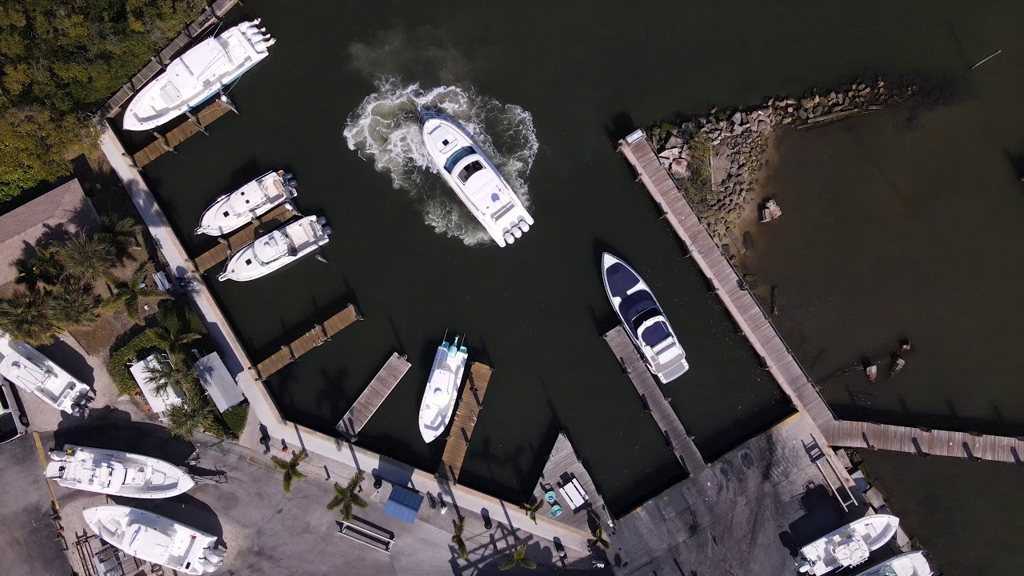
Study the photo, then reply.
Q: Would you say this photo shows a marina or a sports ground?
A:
marina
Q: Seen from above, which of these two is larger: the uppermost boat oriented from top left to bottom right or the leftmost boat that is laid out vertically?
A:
the uppermost boat oriented from top left to bottom right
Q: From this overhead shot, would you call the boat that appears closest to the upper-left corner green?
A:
No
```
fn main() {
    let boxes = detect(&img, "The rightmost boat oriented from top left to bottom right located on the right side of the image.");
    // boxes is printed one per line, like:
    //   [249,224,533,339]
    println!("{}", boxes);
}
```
[602,255,687,384]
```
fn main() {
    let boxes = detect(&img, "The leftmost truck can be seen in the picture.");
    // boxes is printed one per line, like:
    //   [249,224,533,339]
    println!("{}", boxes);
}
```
[0,374,31,444]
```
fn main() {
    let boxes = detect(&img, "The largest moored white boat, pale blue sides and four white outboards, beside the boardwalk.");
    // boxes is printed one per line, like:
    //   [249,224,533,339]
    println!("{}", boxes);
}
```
[124,15,275,131]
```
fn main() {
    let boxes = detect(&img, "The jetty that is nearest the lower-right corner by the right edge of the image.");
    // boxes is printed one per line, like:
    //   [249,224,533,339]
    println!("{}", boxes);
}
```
[808,417,1024,464]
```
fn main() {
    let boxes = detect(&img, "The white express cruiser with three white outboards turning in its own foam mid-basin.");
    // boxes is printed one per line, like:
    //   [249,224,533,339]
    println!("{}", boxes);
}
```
[421,114,538,254]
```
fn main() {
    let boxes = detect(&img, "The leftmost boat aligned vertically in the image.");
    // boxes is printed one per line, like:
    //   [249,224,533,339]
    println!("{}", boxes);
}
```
[422,333,469,441]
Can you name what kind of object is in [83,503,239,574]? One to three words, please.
boat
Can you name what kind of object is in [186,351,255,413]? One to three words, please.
shed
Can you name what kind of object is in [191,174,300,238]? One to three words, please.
boat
